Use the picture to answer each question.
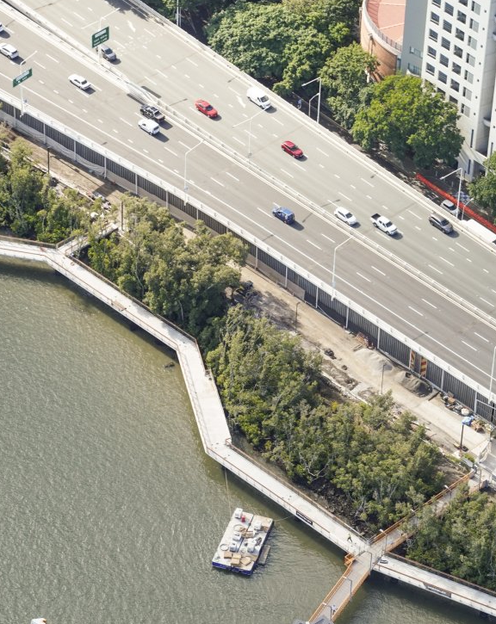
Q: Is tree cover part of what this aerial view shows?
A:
Yes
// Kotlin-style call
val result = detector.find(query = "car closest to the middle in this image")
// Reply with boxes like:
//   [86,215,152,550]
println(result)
[267,205,292,223]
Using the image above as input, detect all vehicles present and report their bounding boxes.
[136,103,163,123]
[243,86,268,107]
[134,117,158,135]
[267,205,292,223]
[278,139,301,157]
[424,212,450,232]
[66,74,89,91]
[367,213,396,234]
[193,99,215,116]
[437,198,461,216]
[93,43,116,59]
[0,42,16,58]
